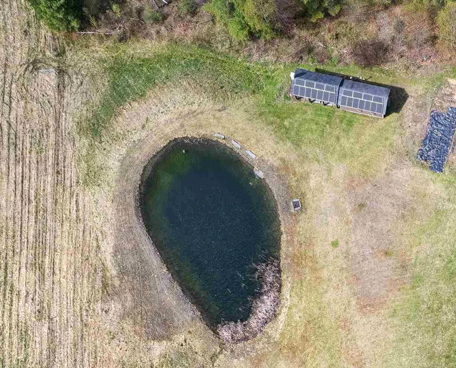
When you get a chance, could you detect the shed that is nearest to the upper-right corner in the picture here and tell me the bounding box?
[339,78,391,121]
